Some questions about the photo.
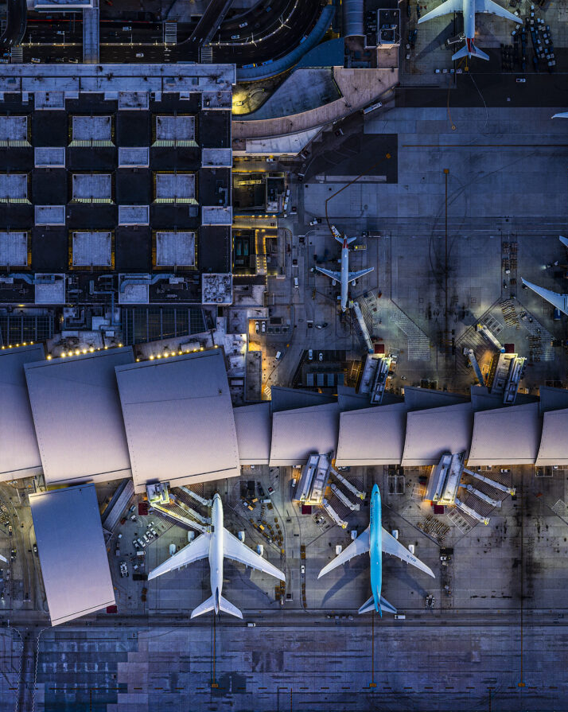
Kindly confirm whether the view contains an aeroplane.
Yes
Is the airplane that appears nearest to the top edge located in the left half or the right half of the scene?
right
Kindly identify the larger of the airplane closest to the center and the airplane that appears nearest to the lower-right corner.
the airplane that appears nearest to the lower-right corner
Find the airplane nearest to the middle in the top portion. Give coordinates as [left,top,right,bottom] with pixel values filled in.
[314,235,373,312]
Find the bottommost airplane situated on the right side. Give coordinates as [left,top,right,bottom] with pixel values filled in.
[317,483,434,617]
